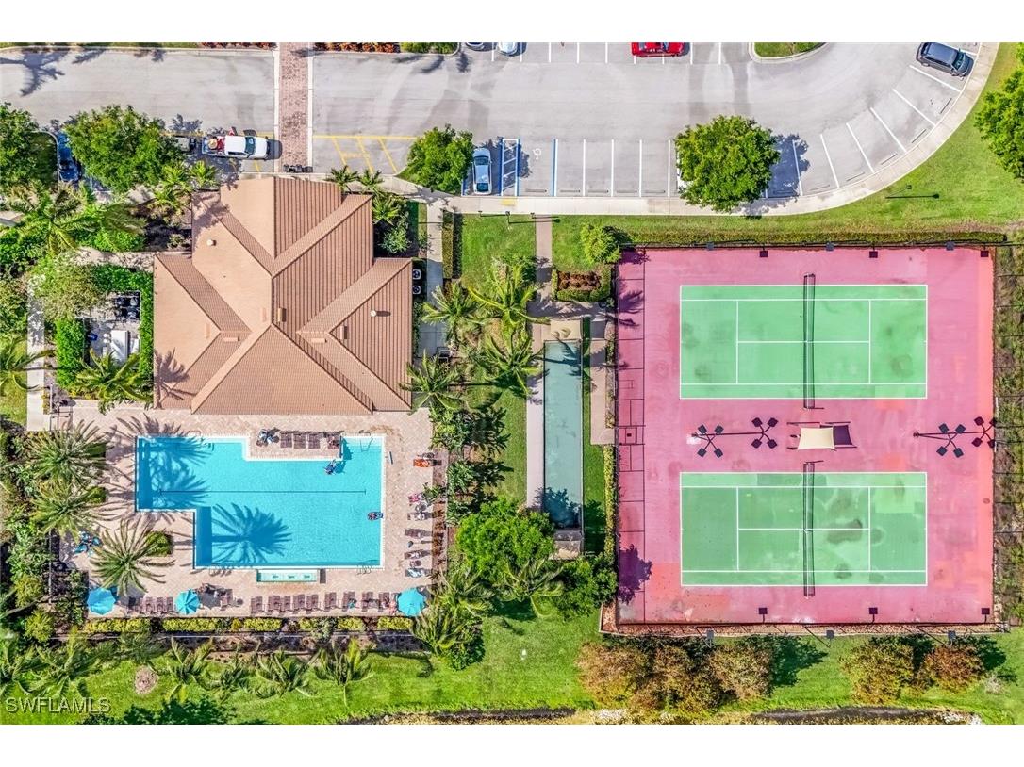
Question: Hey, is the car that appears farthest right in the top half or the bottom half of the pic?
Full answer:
The top half of the photo is where the car that appears farthest right is.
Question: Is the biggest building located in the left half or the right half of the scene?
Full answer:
It is on the left.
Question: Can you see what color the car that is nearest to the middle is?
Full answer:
The car that is nearest to the middle looks blue in the image.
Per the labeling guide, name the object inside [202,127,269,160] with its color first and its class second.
white truck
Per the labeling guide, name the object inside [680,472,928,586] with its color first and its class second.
green tennis court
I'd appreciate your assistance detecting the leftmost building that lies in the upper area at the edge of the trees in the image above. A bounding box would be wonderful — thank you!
[153,177,413,415]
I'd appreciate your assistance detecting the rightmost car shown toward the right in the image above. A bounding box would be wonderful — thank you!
[915,41,972,78]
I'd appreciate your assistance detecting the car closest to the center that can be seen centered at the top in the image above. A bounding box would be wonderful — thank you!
[472,145,494,195]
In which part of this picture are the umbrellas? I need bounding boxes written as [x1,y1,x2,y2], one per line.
[399,588,425,614]
[90,586,117,614]
[175,587,201,613]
